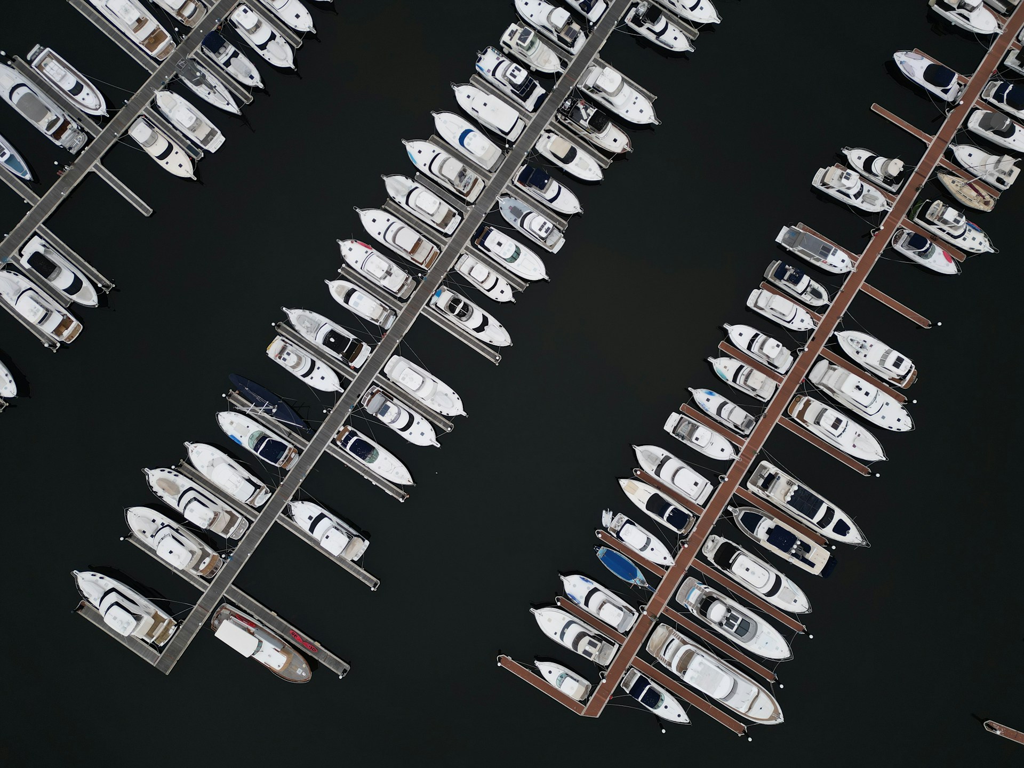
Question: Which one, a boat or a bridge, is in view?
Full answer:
Looking from above, you can make out a boat.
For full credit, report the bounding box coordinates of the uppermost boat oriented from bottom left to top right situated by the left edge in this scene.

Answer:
[24,42,43,63]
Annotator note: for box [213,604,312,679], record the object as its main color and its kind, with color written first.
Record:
white boat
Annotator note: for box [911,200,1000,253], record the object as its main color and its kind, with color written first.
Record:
white boat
